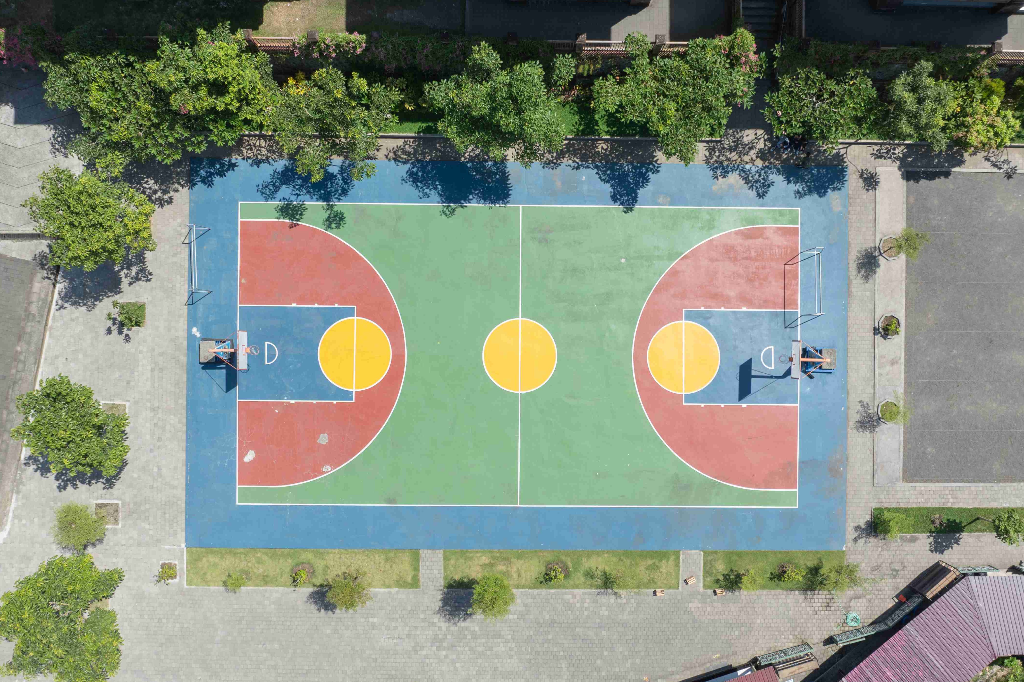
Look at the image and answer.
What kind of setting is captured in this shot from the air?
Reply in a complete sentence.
The picture captures a sports ground.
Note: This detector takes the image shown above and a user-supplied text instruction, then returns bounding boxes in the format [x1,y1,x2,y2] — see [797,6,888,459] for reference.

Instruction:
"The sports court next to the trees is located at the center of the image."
[185,158,848,551]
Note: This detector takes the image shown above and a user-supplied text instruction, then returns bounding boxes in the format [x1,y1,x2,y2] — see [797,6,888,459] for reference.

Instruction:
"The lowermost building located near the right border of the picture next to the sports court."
[845,576,1024,682]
